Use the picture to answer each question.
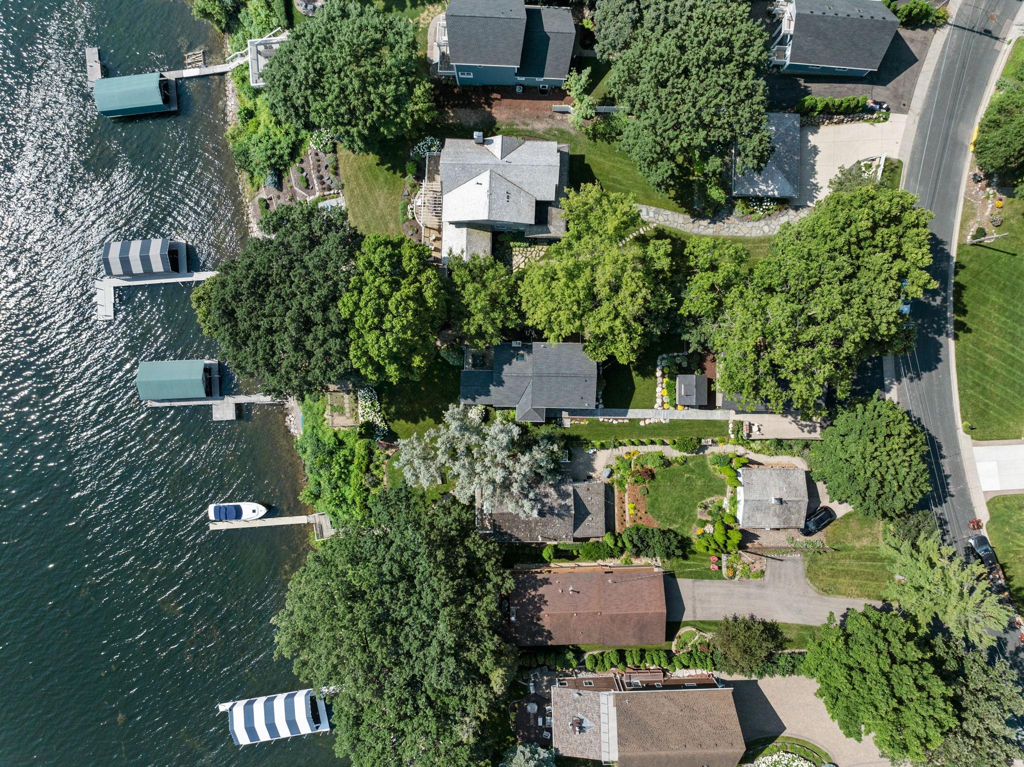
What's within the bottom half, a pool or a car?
car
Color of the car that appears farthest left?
black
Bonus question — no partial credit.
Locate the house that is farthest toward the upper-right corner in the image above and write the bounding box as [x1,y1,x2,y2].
[765,0,901,80]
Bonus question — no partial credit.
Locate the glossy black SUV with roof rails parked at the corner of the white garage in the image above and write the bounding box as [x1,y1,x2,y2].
[797,502,839,538]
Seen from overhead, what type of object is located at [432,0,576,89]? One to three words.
house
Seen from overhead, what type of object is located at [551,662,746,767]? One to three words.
house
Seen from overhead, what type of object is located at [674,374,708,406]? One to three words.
shed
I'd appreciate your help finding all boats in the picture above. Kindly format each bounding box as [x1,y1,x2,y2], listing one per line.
[204,503,267,523]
